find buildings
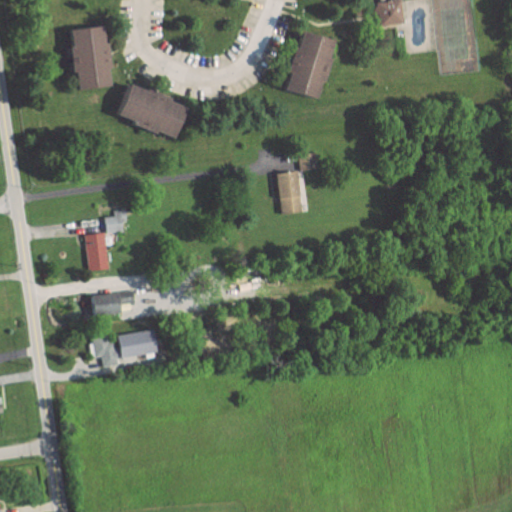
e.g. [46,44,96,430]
[118,84,186,138]
[72,24,112,89]
[104,210,128,234]
[89,340,118,368]
[298,156,313,172]
[118,331,158,360]
[91,290,134,315]
[85,234,114,272]
[288,30,336,98]
[278,171,308,214]
[375,0,404,26]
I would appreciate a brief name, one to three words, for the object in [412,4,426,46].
swimming pool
